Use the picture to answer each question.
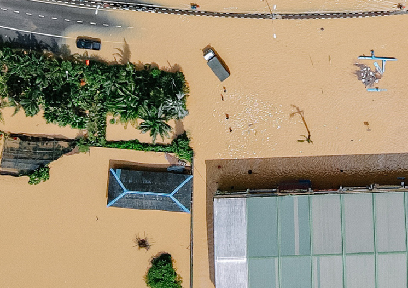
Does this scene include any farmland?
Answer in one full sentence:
No, no farmland is visible.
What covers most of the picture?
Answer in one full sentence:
Most of the picture is covered by water.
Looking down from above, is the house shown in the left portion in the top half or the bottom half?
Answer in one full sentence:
Seen from above, the house shown in the left portion lies in the bottom half of the view.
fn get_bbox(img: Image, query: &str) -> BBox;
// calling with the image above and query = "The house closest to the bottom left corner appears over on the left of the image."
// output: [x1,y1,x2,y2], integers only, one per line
[106,167,193,213]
